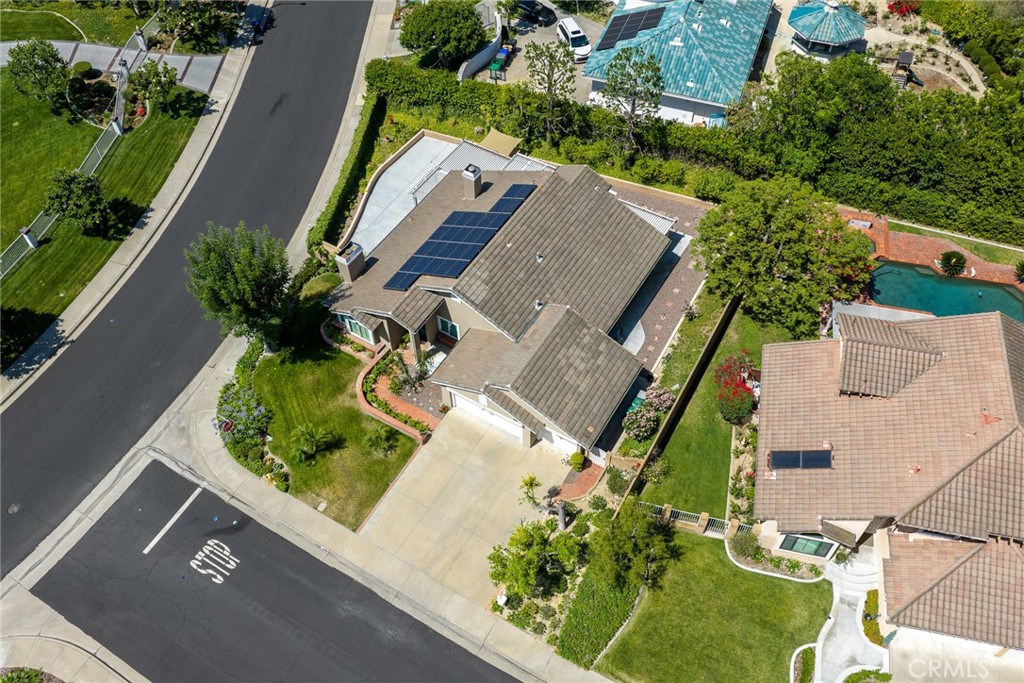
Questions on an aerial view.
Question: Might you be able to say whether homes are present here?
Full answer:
Yes, the frame does contain a home.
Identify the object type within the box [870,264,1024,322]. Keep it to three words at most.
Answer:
swimming pool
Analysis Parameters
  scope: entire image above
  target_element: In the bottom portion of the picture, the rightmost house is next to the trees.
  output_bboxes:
[753,310,1024,665]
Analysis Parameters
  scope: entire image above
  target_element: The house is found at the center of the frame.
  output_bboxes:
[324,163,672,459]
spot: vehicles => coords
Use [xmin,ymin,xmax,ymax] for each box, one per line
[559,19,591,62]
[517,0,552,23]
